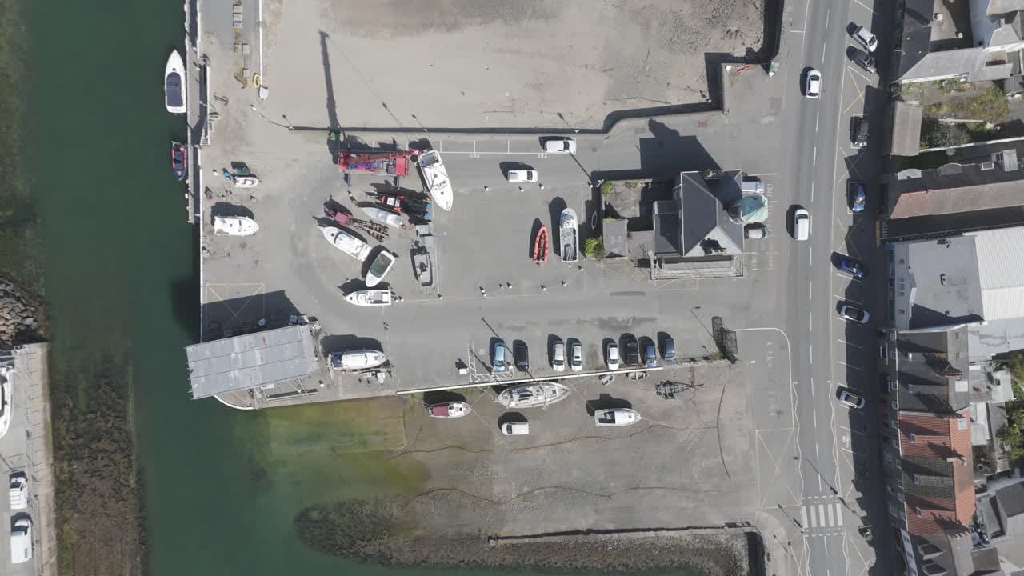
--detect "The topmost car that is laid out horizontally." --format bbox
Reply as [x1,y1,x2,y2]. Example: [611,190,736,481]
[543,140,574,153]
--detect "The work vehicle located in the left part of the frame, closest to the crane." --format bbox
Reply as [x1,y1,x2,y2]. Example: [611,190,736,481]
[368,189,401,211]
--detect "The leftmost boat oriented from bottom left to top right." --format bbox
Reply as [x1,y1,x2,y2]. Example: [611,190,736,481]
[366,248,397,288]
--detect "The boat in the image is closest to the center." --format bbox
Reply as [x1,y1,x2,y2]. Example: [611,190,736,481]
[532,225,548,267]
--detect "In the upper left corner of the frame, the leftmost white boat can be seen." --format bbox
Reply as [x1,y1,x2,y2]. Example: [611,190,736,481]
[164,49,189,117]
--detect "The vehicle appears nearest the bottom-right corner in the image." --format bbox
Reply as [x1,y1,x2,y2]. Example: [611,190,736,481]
[834,387,864,406]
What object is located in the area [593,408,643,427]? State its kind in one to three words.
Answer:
boat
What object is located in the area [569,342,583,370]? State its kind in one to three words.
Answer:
car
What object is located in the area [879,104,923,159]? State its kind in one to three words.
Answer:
building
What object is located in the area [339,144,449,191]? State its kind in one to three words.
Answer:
crane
